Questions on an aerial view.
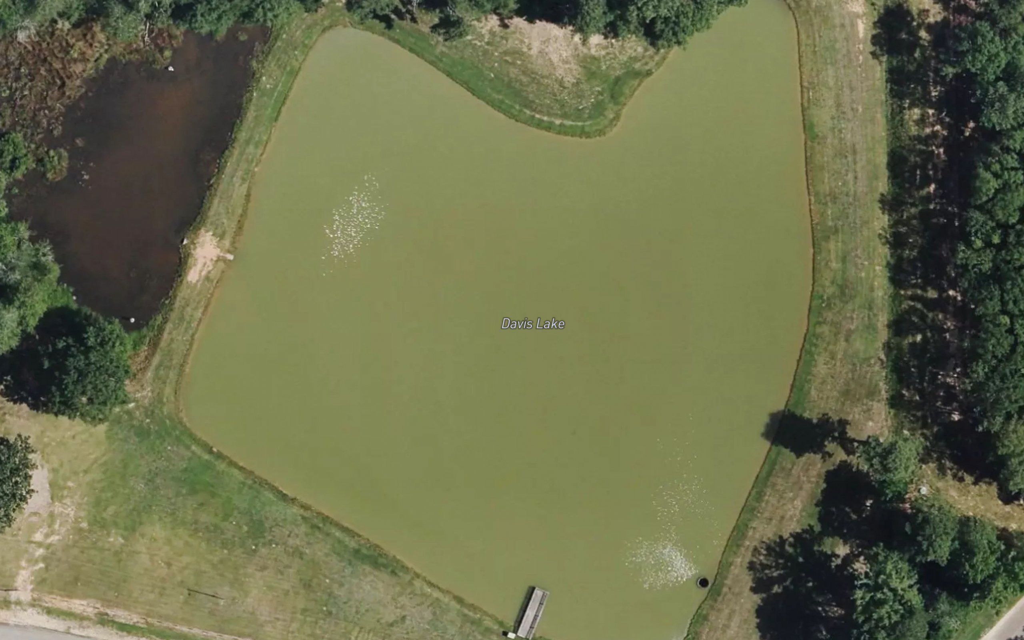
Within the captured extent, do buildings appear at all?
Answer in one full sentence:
No, I find no building anywhere in the image.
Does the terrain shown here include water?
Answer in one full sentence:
Yes, the picture does contain water.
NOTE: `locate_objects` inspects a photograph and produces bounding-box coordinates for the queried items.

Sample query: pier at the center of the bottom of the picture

[517,587,549,640]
